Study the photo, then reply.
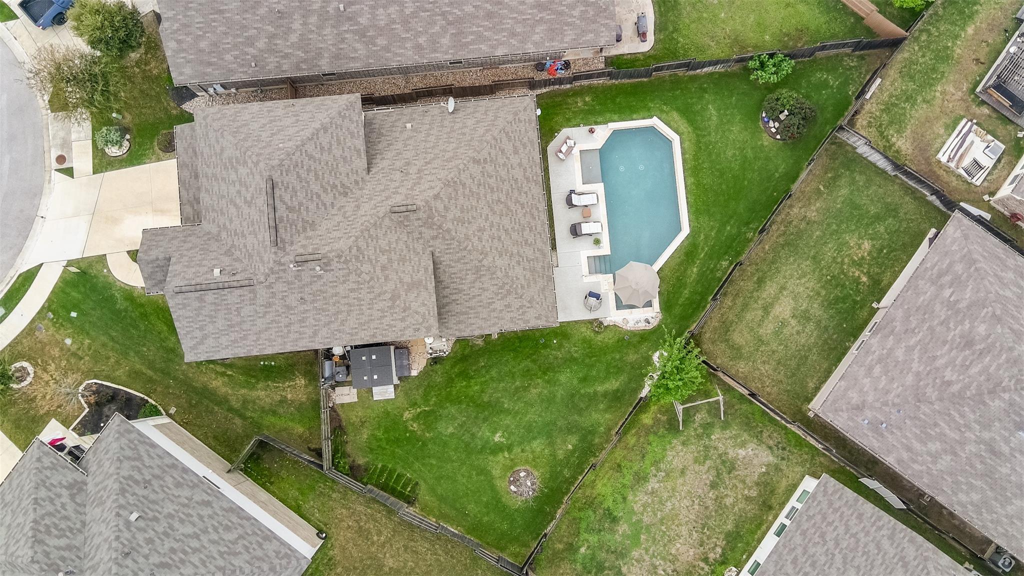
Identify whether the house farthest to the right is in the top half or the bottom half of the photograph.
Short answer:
top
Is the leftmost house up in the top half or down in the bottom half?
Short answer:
bottom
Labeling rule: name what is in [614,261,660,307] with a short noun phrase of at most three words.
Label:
umbrella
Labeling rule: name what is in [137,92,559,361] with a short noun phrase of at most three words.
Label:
house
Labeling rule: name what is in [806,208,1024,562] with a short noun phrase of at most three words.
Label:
house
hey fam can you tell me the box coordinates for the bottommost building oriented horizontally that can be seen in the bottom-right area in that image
[739,473,976,576]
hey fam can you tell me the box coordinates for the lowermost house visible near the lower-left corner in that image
[0,411,320,576]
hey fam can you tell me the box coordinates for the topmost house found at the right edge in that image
[987,157,1024,228]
